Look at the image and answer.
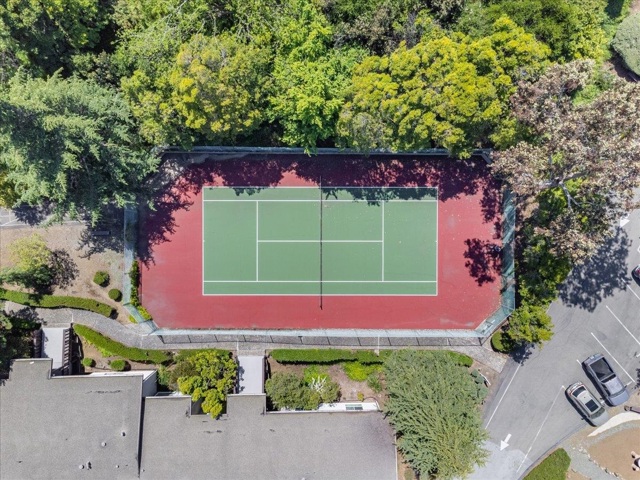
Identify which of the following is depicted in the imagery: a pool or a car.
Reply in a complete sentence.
Visible in the photo is a car.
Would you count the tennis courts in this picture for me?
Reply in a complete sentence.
Just 1 tennis court appears in this view.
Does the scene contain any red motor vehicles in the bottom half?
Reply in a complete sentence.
No, looking in the bottom half, there is no red motor vehicle.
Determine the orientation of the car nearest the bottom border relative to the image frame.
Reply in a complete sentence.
In this picture, the car nearest the bottom border is oriented at an angle.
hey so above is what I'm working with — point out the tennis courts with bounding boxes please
[137,154,502,330]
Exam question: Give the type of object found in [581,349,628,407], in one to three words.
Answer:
truck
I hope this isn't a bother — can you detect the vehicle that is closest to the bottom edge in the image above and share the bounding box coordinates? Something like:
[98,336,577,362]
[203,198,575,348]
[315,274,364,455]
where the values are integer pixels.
[568,379,607,425]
